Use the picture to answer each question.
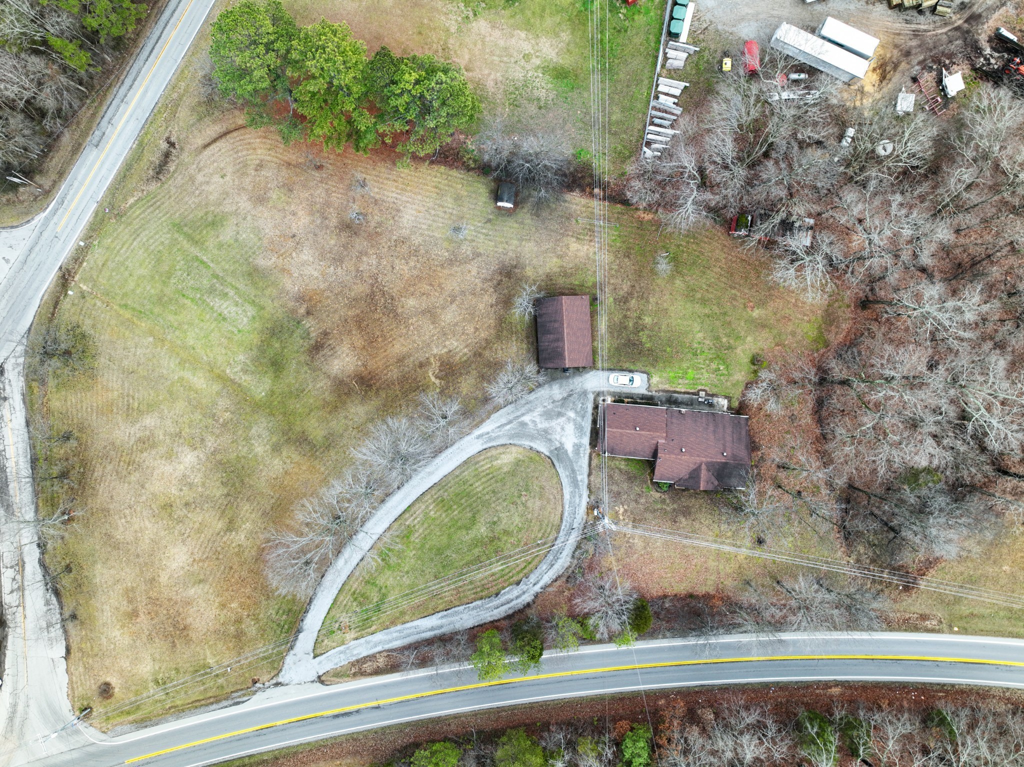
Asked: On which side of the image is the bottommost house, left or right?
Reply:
right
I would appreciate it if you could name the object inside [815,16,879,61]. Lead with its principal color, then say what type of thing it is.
white trailer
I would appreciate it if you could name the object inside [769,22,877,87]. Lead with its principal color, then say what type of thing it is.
white trailer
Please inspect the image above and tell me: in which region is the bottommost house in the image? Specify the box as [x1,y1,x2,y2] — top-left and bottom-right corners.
[596,403,751,491]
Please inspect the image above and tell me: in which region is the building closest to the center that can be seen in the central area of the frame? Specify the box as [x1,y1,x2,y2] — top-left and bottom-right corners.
[536,296,593,369]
